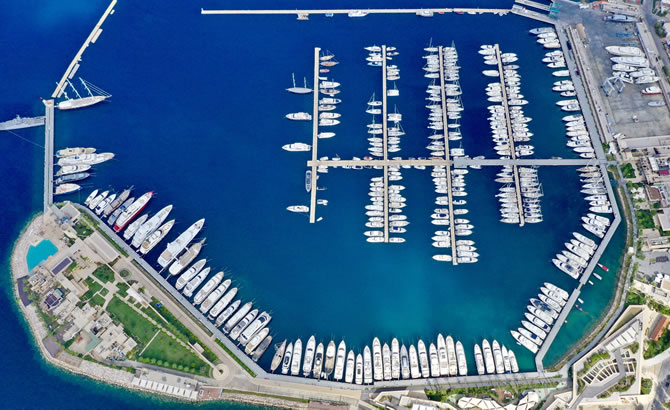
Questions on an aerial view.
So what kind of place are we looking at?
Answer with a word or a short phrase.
port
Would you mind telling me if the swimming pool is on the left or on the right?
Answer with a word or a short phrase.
left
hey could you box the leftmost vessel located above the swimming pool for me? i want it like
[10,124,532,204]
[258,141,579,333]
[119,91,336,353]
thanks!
[0,111,50,146]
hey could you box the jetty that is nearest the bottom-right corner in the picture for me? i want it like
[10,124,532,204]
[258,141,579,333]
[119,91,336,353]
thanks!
[534,288,581,371]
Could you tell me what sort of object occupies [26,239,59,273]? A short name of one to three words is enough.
swimming pool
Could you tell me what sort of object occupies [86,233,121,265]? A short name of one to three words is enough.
building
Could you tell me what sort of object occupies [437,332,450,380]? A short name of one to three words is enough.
boat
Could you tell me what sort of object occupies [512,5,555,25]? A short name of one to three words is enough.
pier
